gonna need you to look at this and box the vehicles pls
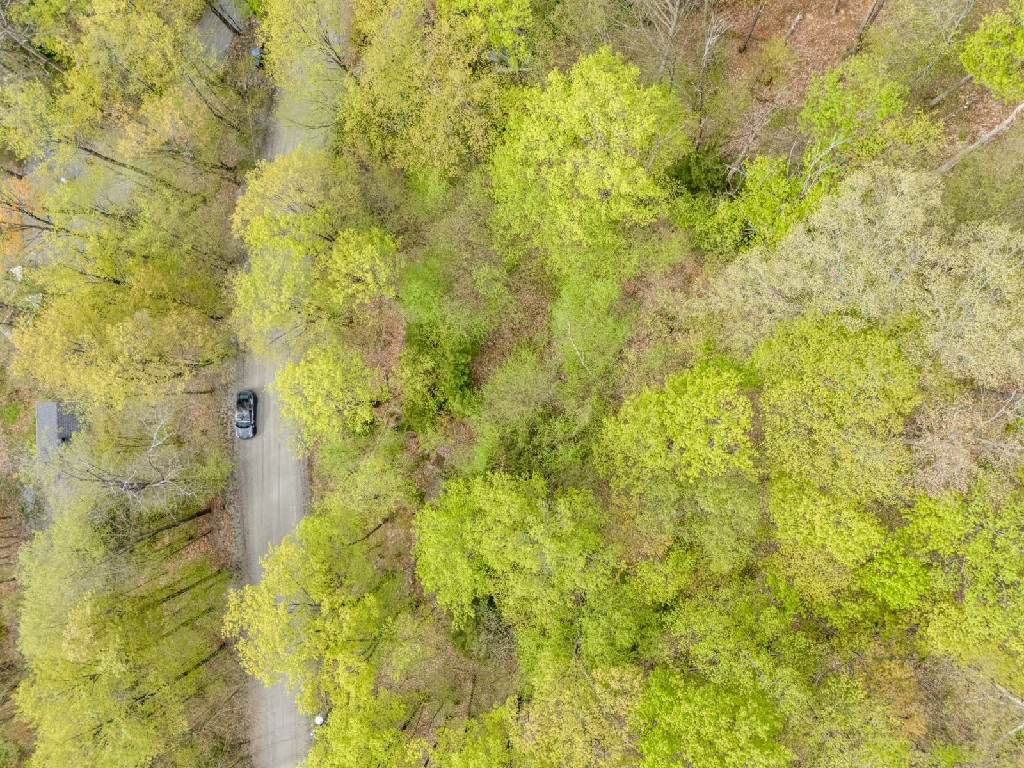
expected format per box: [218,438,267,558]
[231,391,256,439]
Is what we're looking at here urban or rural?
rural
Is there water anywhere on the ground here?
No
